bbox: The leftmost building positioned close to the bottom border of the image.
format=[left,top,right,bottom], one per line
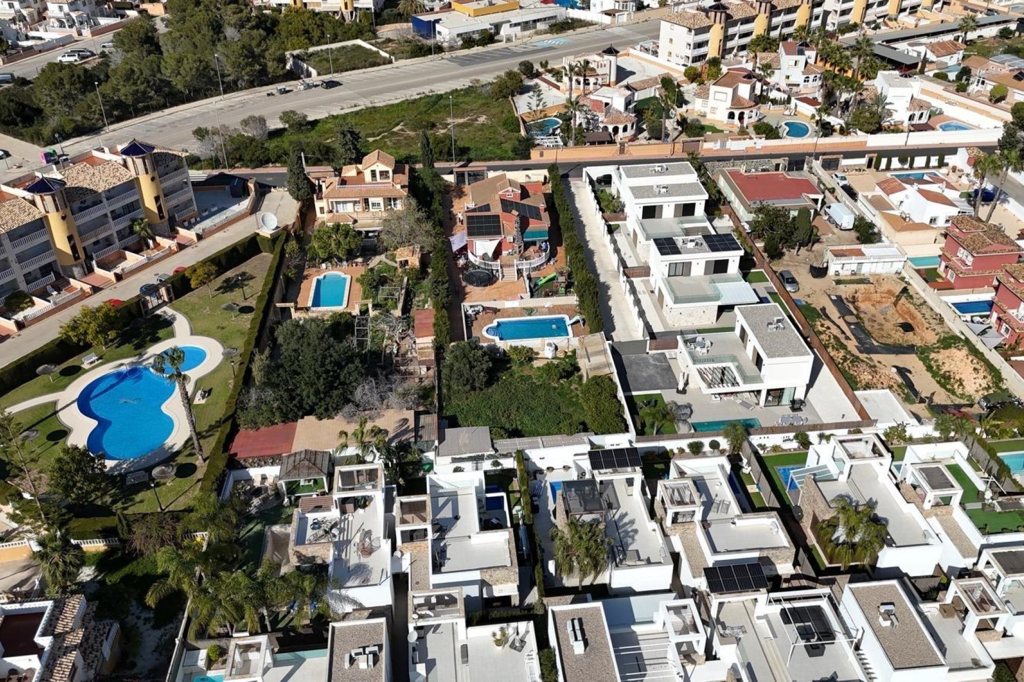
[0,601,117,682]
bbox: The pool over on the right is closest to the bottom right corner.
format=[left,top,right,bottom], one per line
[999,449,1024,473]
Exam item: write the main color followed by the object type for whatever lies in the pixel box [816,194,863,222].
white van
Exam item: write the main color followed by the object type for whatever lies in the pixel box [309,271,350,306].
blue swimming pool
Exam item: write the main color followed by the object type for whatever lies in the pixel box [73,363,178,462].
blue swimming pool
